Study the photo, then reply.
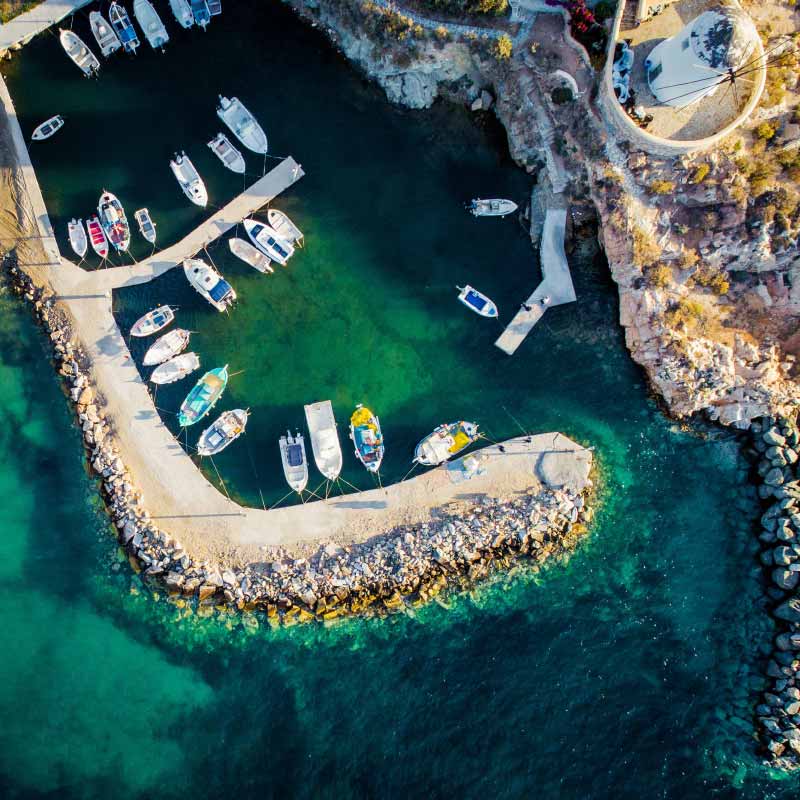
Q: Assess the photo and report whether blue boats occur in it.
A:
Yes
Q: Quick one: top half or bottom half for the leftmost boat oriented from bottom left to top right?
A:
top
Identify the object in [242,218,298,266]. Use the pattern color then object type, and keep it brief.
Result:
white boat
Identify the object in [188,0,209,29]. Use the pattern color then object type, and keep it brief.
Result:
blue boat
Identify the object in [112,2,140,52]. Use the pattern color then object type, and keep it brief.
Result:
blue boat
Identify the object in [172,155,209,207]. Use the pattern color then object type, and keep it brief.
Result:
white boat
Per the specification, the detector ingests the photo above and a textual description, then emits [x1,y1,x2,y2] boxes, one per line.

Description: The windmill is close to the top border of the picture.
[640,6,800,123]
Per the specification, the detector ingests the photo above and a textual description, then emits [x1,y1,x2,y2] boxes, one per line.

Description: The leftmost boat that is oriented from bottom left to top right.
[31,114,66,140]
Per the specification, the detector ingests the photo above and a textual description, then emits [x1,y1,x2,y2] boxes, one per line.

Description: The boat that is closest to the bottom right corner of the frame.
[413,427,480,465]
